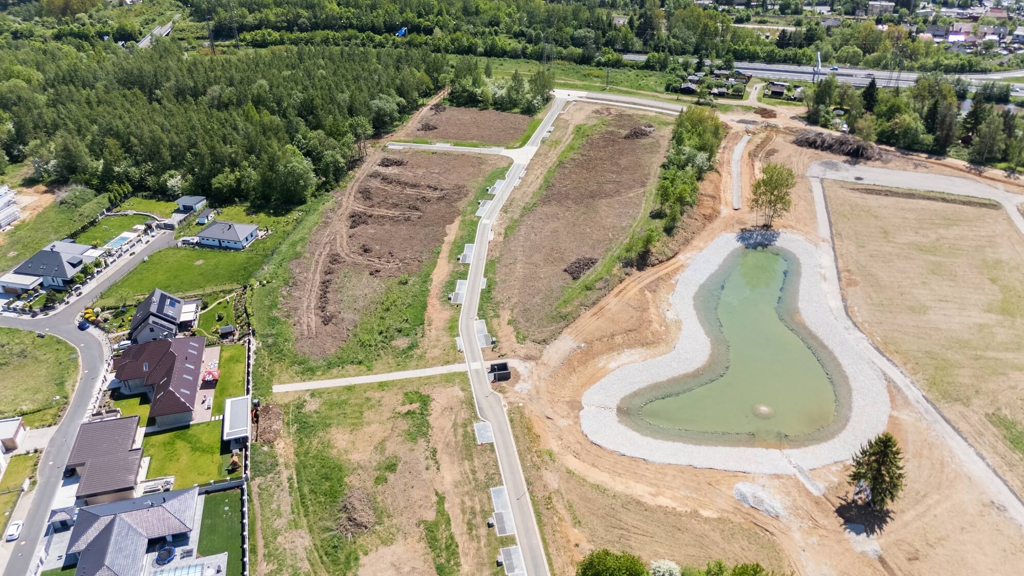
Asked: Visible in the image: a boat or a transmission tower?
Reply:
transmission tower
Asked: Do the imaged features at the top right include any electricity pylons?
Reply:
Yes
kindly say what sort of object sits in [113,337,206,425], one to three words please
house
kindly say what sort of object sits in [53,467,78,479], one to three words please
vehicle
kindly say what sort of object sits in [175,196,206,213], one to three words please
building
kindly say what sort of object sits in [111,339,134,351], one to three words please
vehicle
